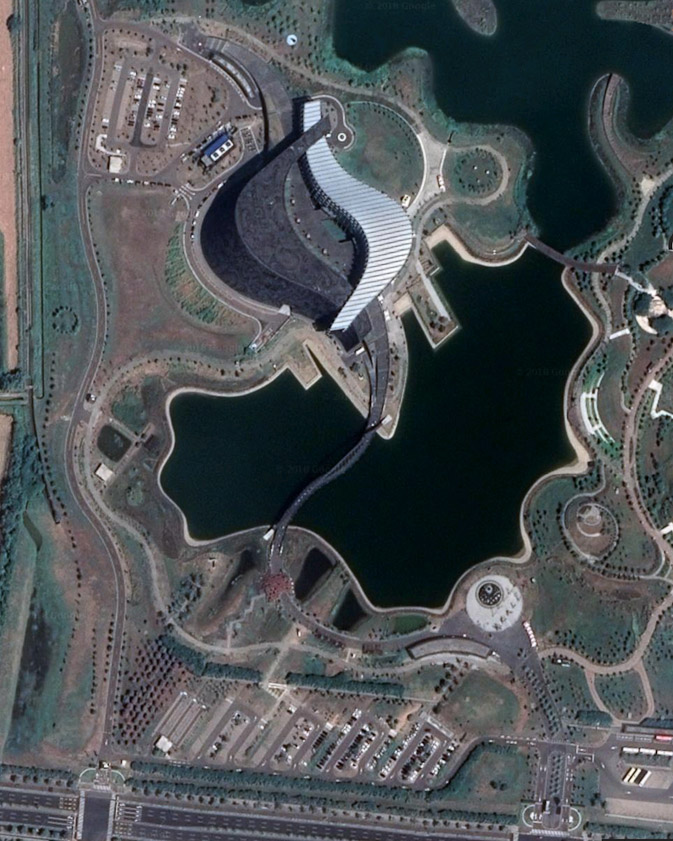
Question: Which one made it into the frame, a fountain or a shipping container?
fountain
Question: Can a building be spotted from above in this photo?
Yes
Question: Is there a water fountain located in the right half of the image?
Yes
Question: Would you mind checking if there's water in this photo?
Yes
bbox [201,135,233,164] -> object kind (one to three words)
building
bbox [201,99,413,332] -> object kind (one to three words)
building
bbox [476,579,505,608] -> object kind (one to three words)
fountain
